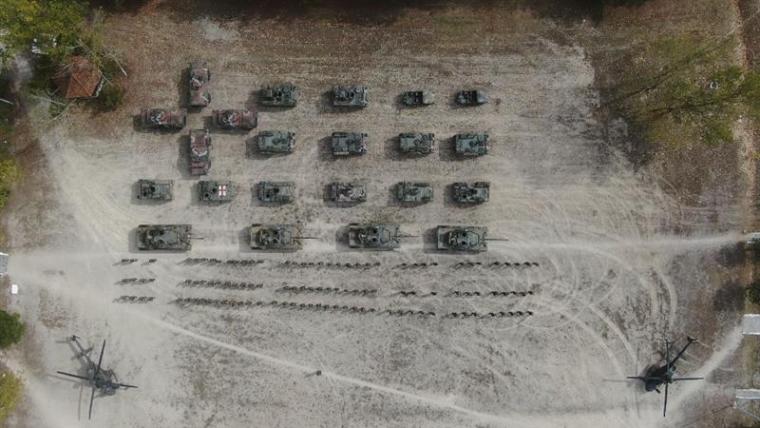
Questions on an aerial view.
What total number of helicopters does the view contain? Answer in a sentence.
There are 2 helicopters in the image.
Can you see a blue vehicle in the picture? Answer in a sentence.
No, I can't see a single blue vehicle in this photo.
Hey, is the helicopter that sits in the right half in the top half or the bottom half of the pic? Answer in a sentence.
It is in the bottom half that the helicopter that sits in the right half appears.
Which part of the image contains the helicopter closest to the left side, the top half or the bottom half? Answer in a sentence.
The bottom half of the photo is where the helicopter closest to the left side is.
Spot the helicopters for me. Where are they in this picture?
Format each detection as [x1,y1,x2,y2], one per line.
[626,335,705,418]
[59,335,137,418]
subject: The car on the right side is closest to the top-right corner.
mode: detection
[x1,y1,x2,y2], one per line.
[454,91,488,105]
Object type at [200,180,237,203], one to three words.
vehicle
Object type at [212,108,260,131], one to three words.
truck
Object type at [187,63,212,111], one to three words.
truck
